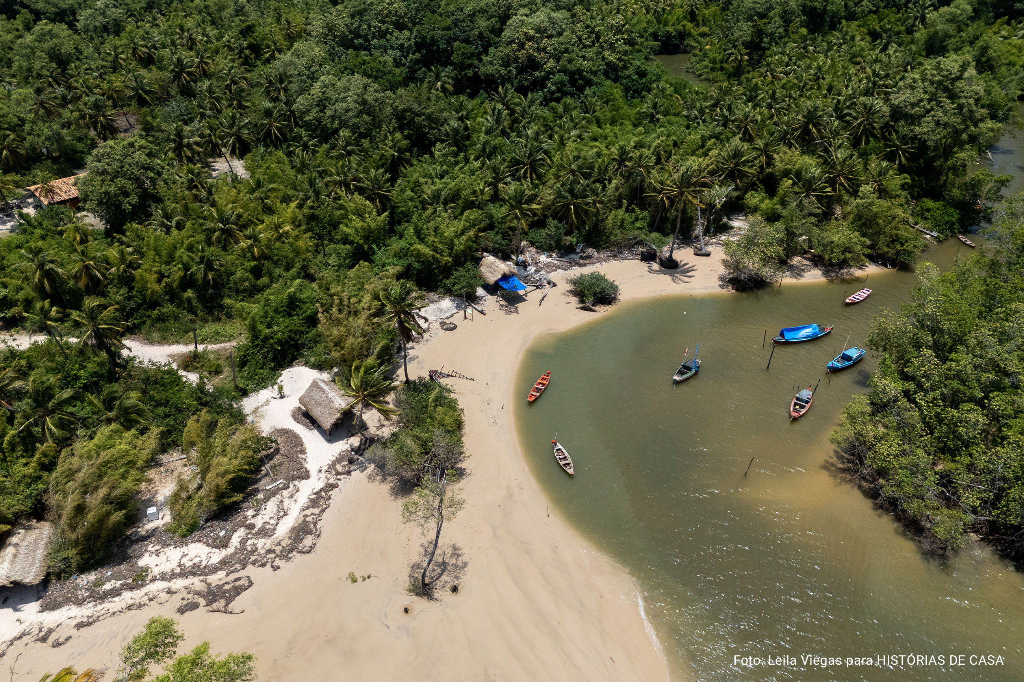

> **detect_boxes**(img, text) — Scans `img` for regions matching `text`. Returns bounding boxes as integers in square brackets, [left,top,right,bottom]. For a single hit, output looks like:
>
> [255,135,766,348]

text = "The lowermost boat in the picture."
[546,425,575,479]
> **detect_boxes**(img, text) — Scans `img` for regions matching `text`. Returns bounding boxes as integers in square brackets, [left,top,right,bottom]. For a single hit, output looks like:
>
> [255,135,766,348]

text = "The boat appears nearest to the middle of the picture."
[527,368,551,404]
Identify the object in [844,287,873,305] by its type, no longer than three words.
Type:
boat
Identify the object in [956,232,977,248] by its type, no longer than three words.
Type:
boat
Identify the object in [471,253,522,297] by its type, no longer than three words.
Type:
shed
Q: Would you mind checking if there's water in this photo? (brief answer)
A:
Yes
